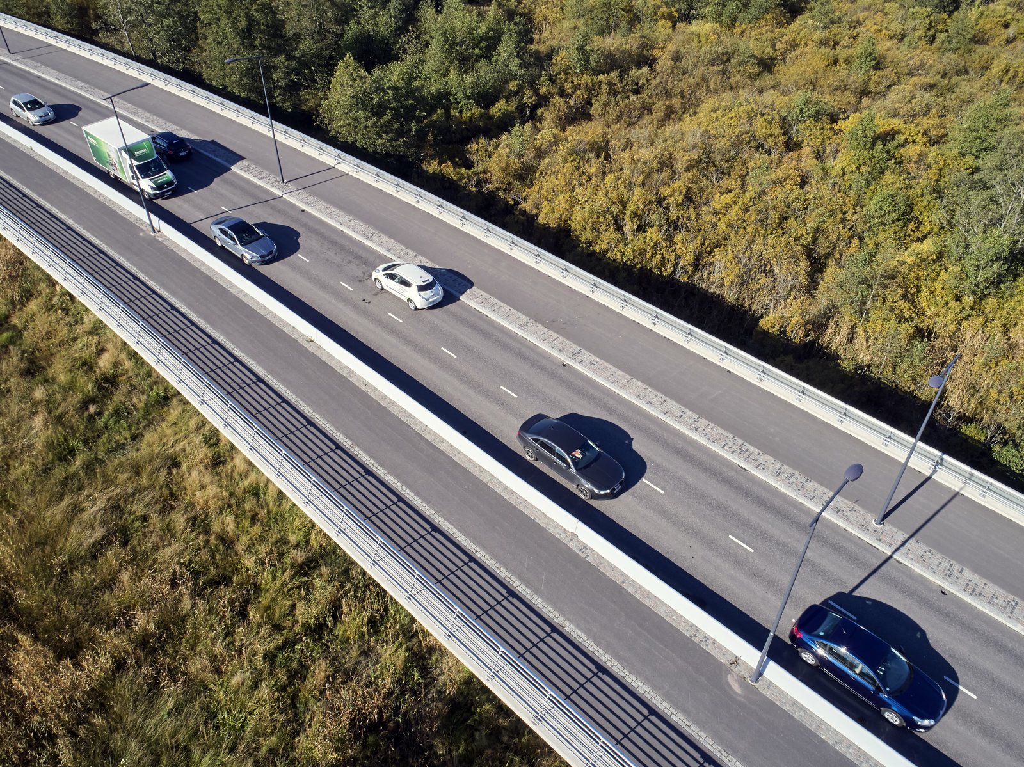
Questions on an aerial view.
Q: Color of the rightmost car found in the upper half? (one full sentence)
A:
The rightmost car found in the upper half is white.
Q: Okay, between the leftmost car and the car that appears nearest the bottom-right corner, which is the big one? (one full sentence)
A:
Of the two, the car that appears nearest the bottom-right corner is bigger, while the leftmost car is smaller.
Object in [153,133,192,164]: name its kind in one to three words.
car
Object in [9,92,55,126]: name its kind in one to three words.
car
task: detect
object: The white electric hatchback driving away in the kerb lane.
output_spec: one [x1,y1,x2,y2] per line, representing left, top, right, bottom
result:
[374,262,442,310]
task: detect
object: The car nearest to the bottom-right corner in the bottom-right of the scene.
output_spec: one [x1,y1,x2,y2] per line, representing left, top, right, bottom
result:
[791,603,945,730]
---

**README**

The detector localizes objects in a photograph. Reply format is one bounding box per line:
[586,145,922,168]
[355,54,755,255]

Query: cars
[9,92,55,126]
[153,133,192,164]
[210,216,278,265]
[374,262,442,310]
[518,413,623,500]
[791,603,945,730]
